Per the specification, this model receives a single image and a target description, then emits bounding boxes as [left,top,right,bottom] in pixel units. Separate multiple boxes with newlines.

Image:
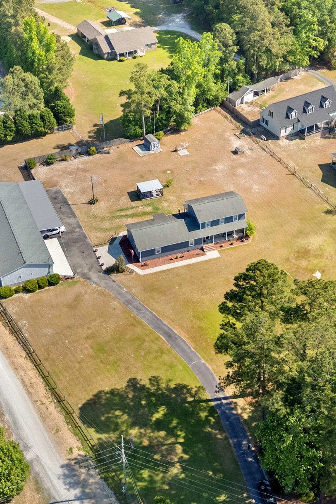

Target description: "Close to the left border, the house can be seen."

[0,180,65,285]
